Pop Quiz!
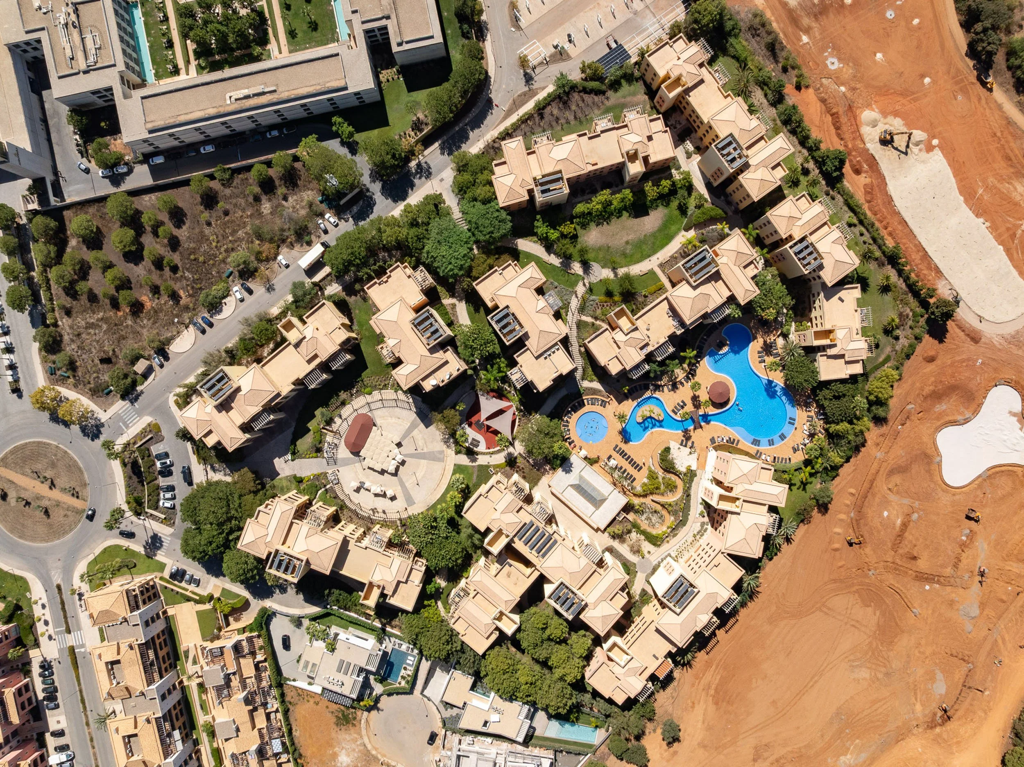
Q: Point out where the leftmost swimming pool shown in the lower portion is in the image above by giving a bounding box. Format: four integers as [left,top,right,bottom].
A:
[381,647,417,684]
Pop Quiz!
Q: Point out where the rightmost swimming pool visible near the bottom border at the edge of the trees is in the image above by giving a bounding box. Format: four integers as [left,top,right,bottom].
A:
[541,717,600,745]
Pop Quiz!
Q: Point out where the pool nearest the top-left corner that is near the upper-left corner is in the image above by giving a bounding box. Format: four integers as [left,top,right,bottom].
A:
[127,0,156,86]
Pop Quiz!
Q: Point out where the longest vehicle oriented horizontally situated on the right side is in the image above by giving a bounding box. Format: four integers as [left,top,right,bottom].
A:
[879,129,909,142]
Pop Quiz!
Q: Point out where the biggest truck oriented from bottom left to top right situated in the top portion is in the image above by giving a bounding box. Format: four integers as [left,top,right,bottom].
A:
[295,241,329,273]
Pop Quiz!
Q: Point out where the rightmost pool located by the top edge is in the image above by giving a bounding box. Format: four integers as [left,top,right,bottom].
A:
[331,0,351,42]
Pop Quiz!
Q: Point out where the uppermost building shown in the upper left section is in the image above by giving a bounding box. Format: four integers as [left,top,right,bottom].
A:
[0,0,446,205]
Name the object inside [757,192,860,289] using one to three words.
building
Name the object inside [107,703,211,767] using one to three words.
house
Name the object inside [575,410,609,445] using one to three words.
swimming pool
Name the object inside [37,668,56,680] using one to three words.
vehicle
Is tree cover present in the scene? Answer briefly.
Yes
